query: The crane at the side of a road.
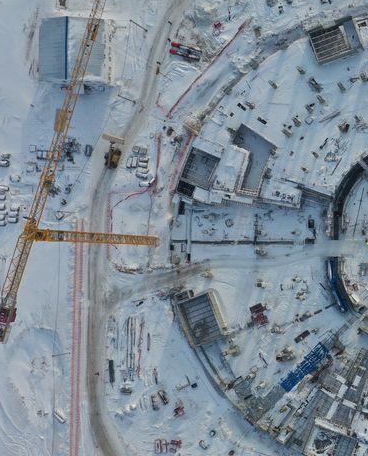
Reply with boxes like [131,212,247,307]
[0,0,167,350]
